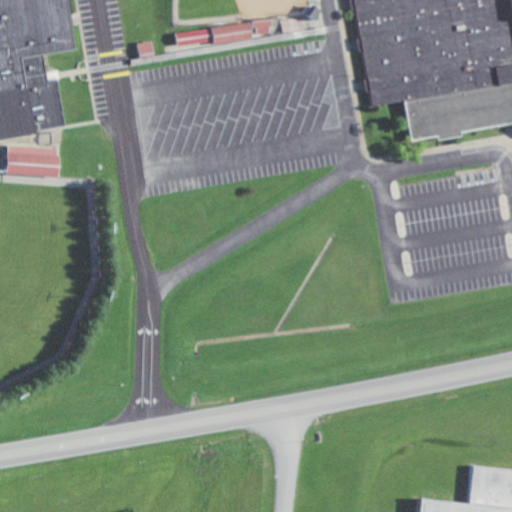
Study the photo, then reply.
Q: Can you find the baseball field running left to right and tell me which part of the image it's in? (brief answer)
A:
top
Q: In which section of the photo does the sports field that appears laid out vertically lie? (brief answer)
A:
left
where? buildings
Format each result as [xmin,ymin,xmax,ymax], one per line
[6,147,60,176]
[352,0,512,141]
[252,19,270,37]
[136,42,154,56]
[0,0,76,140]
[415,466,512,512]
[210,22,252,44]
[174,28,209,46]
[280,18,306,33]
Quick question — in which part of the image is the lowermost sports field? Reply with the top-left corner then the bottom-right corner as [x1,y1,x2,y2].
[0,183,92,381]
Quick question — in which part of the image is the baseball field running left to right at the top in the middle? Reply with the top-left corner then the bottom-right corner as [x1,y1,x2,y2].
[178,0,308,24]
